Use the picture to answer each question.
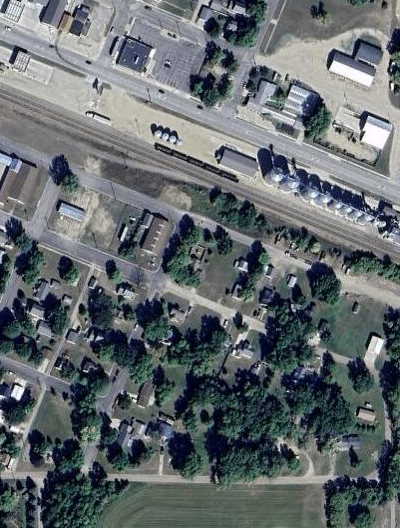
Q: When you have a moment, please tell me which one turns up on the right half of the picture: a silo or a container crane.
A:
silo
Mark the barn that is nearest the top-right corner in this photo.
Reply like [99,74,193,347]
[354,40,383,66]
